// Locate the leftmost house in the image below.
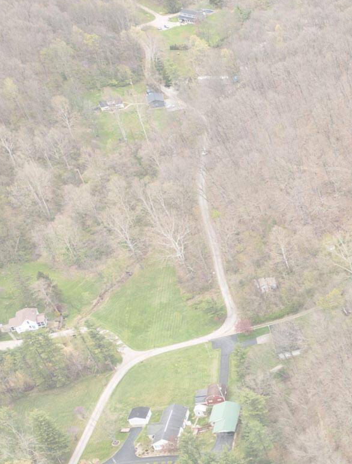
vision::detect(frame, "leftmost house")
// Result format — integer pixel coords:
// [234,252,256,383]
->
[7,302,47,333]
